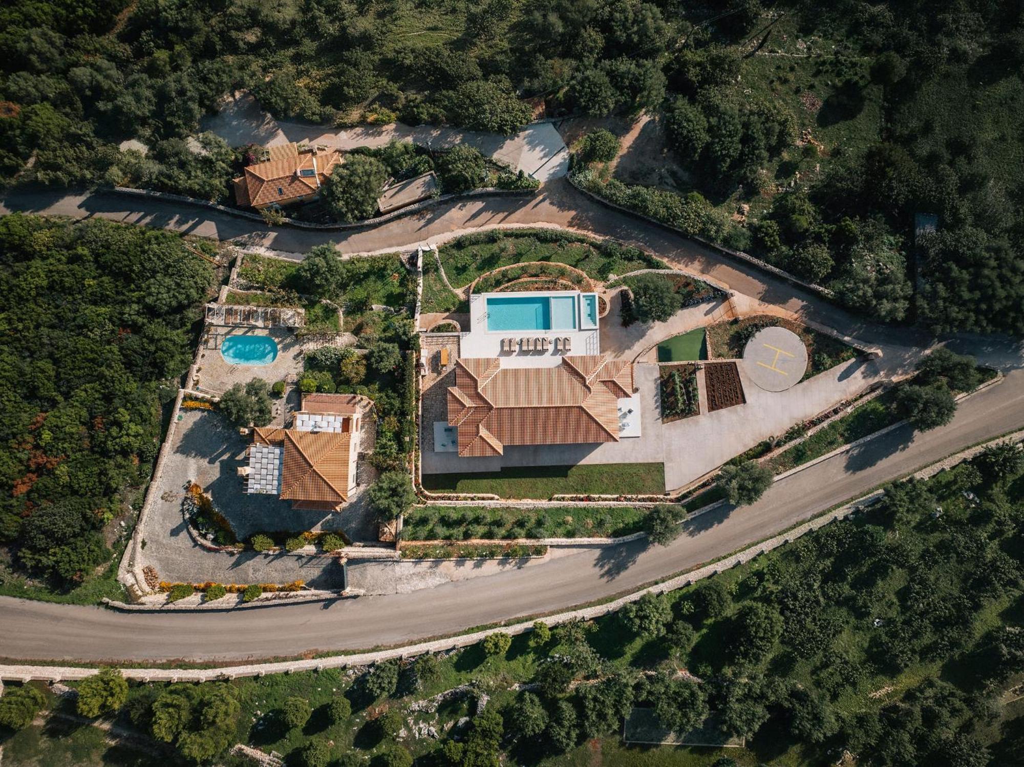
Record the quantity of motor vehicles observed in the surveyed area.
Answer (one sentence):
The picture shows no motor vehicles.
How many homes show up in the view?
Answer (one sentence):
The photo contains 3 homes.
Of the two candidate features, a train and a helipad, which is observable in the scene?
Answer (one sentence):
The image shows a helipad.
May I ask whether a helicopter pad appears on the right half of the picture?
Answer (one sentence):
Yes, there is a helicopter pad on the right half of the picture.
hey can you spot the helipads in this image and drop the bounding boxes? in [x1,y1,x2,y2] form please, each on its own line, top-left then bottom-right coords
[742,327,807,391]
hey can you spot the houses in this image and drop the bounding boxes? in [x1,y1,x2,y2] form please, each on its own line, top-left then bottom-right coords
[447,355,633,456]
[235,392,379,512]
[232,142,346,211]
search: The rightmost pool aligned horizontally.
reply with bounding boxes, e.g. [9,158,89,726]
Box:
[483,290,581,333]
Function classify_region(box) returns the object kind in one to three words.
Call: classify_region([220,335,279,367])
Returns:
swimming pool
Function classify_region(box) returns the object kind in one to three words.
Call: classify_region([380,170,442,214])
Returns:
building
